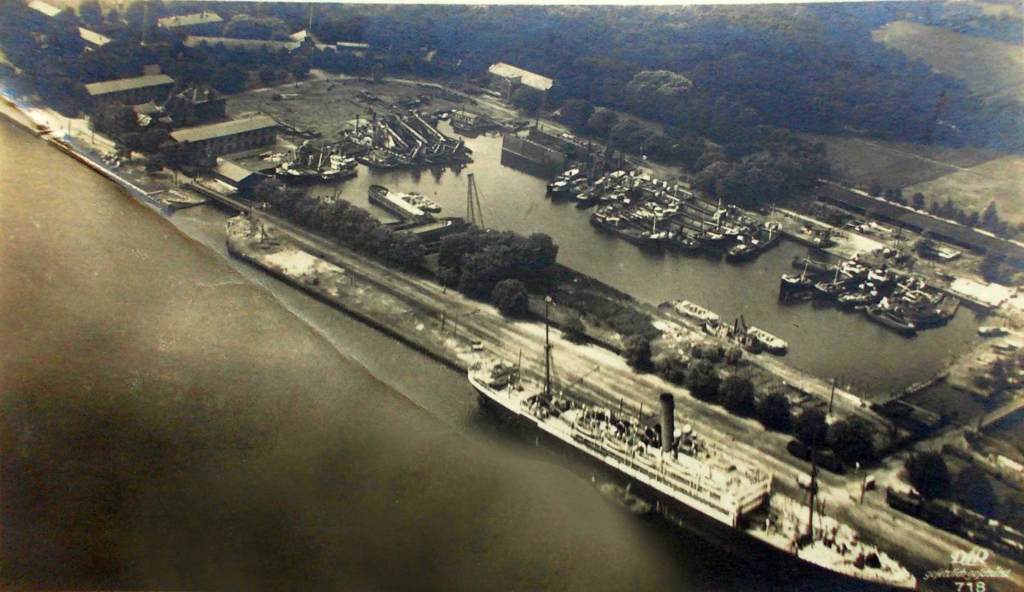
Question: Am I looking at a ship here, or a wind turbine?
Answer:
ship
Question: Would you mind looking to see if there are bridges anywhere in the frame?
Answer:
Yes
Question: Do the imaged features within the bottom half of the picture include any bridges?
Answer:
No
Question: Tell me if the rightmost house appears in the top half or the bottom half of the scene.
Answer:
bottom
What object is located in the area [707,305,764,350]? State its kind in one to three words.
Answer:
ship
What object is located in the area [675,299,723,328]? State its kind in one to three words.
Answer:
ship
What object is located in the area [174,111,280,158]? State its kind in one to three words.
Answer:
building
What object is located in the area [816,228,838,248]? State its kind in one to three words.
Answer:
shed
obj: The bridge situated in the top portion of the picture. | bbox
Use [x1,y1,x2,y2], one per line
[173,176,261,217]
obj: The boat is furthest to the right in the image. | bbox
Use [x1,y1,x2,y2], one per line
[992,343,1021,355]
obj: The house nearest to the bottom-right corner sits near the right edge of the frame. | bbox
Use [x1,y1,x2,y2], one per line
[996,450,1024,483]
